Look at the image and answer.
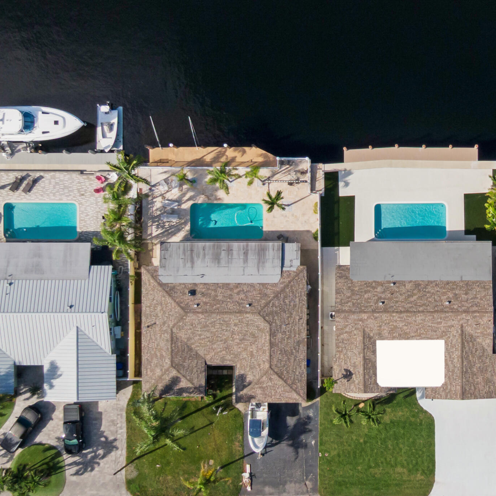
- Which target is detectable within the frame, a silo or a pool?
pool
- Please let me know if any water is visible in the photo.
Yes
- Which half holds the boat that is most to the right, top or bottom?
bottom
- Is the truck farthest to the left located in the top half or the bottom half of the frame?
bottom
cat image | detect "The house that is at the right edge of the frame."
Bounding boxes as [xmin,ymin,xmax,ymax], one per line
[332,241,496,400]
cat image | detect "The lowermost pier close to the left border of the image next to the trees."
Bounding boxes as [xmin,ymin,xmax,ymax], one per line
[0,149,123,164]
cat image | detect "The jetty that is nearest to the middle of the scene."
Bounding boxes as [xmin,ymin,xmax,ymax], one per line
[145,144,276,166]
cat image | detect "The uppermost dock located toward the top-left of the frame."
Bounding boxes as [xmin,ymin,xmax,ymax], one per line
[97,108,123,150]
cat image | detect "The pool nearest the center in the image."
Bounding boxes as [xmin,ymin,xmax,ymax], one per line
[189,203,264,240]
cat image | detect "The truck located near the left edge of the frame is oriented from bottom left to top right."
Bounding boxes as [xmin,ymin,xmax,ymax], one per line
[0,402,42,455]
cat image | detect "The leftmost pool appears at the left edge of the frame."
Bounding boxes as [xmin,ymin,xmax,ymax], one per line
[0,199,80,242]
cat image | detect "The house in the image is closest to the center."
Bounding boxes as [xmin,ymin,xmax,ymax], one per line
[141,242,307,404]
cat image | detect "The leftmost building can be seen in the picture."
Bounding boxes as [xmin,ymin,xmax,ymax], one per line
[0,243,120,402]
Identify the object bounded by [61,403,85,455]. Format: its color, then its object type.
black truck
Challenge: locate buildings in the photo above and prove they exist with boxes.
[141,242,307,404]
[332,241,496,400]
[0,243,120,402]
